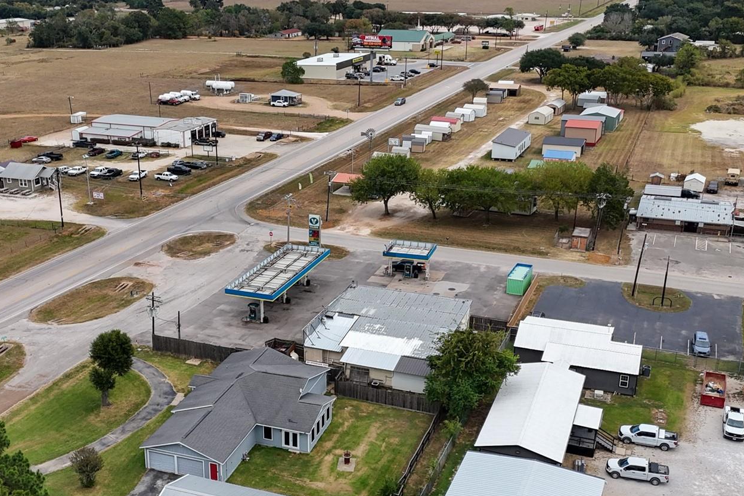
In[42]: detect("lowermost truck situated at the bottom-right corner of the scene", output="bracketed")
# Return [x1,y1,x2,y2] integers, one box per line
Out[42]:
[604,454,671,486]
